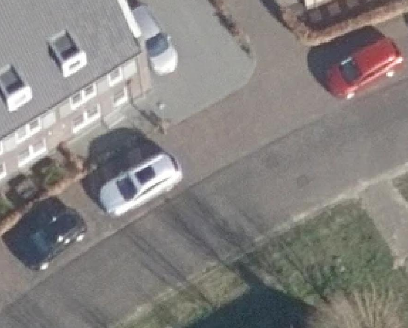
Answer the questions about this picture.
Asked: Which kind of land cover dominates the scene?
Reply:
paved ground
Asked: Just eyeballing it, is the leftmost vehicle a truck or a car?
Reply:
car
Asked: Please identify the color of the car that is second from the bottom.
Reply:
white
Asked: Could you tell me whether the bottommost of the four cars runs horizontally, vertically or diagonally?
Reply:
diagonally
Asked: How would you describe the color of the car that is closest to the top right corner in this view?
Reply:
red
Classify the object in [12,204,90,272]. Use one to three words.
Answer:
car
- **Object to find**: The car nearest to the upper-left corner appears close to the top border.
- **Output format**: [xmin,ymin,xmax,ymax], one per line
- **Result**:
[127,0,176,80]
